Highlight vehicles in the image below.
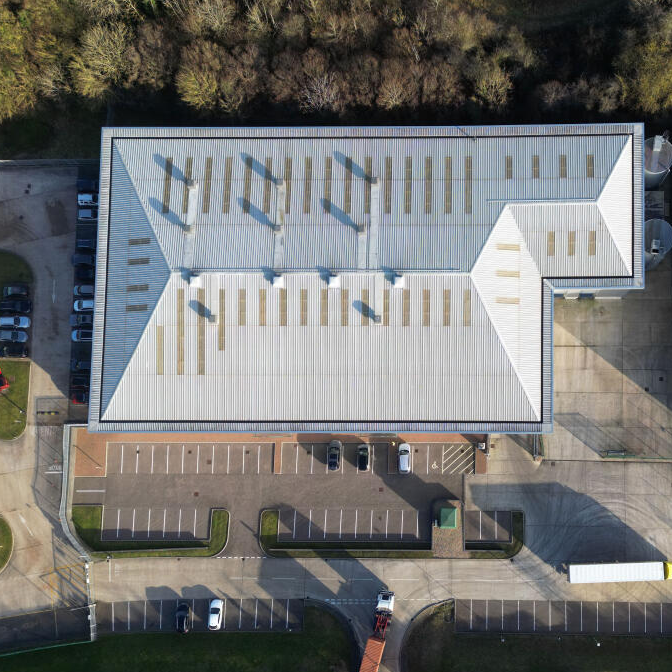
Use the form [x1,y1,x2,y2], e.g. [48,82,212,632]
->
[0,343,31,357]
[71,314,94,328]
[209,598,224,632]
[327,441,341,472]
[75,299,95,313]
[73,359,92,372]
[397,444,412,475]
[74,237,97,251]
[74,192,99,207]
[72,253,97,267]
[75,284,95,298]
[563,555,672,584]
[0,330,29,344]
[70,374,91,389]
[73,178,100,193]
[3,285,28,298]
[372,587,396,638]
[176,601,192,635]
[0,376,11,389]
[356,445,370,472]
[75,208,99,222]
[71,329,93,343]
[75,268,96,281]
[0,316,31,329]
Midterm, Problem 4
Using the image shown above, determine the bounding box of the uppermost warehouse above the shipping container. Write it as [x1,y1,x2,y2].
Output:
[89,123,649,433]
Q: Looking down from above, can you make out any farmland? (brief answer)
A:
No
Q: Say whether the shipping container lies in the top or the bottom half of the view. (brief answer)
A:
bottom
